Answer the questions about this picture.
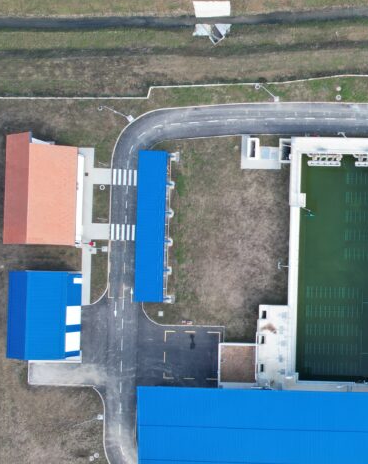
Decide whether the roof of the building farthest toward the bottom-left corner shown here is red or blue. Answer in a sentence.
The roof of the building farthest toward the bottom-left corner is blue.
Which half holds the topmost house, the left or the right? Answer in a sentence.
The topmost house is on the left side of the image.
